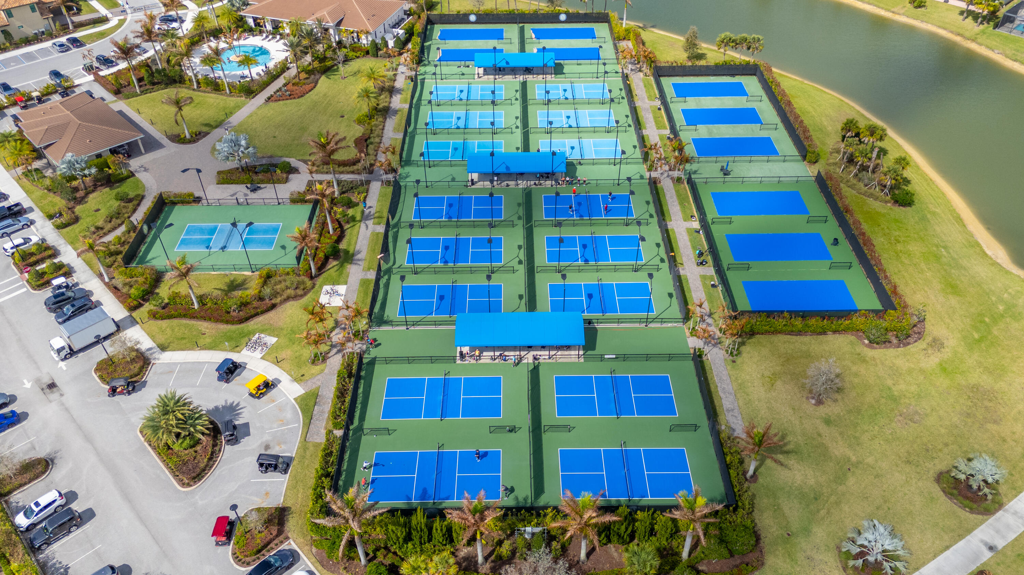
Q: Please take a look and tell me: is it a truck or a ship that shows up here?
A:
truck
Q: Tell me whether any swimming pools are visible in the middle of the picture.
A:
No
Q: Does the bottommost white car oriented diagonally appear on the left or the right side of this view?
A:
left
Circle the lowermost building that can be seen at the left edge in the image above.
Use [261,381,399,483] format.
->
[15,91,147,174]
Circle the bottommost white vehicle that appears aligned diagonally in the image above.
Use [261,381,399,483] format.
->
[14,489,69,532]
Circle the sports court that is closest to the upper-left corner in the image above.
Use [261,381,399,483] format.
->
[174,217,283,252]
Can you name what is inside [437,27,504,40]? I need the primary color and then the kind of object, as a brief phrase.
blue sports court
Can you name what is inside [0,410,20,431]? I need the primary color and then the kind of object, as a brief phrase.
blue car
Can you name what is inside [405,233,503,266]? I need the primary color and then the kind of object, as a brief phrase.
blue sports court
